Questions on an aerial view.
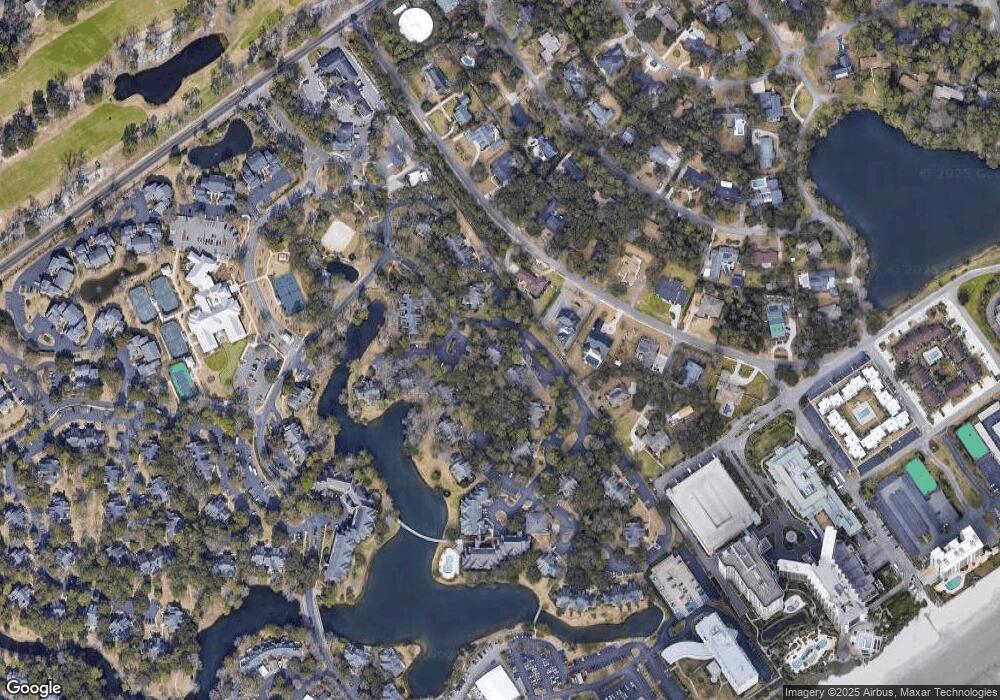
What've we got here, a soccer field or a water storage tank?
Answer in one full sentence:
Of the two, only a water storage tank appears.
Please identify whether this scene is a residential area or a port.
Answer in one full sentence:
What you see here is a residential area.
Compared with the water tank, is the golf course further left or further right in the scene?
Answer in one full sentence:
From the viewer's perspective, the golf course falls to the left of the water tank.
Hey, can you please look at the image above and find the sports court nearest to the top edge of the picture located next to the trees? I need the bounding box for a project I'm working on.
[322,221,354,252]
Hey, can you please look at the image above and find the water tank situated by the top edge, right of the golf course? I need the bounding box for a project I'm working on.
[399,9,433,44]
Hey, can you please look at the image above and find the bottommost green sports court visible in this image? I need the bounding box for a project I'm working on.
[905,459,937,493]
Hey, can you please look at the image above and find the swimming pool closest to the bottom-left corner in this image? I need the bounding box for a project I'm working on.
[438,547,460,580]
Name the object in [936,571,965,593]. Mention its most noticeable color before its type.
white swimming pool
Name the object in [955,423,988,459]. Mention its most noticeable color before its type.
green sports court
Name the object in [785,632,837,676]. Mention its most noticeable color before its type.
white swimming pool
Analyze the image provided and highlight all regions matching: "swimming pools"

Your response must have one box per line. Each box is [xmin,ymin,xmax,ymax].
[785,632,837,676]
[852,630,882,653]
[461,56,474,66]
[936,571,965,593]
[720,402,733,416]
[785,597,803,613]
[438,547,460,580]
[852,399,876,425]
[923,346,943,365]
[751,179,767,189]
